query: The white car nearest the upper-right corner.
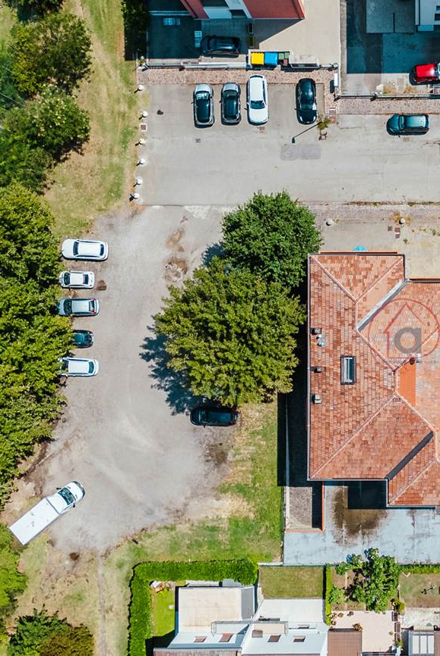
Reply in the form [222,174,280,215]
[245,76,268,124]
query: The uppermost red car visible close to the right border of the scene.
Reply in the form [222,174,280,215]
[412,60,440,84]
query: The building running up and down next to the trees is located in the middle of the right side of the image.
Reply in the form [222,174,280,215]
[308,250,440,509]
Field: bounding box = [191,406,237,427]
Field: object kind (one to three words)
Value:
car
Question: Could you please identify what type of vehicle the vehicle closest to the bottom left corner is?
truck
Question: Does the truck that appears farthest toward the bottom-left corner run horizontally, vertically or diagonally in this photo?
diagonally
